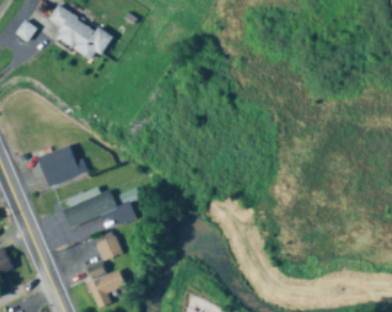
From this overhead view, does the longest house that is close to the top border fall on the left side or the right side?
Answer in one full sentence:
The longest house that is close to the top border appears in the left half of the scene.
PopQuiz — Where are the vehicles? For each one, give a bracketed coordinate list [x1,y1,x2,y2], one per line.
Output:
[88,258,100,264]
[24,281,39,292]
[72,273,88,282]
[103,220,116,228]
[36,41,48,50]
[29,158,38,169]
[8,306,14,312]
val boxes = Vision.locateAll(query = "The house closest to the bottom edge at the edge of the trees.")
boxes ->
[87,269,126,308]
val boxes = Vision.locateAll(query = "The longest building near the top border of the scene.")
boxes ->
[50,6,111,58]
